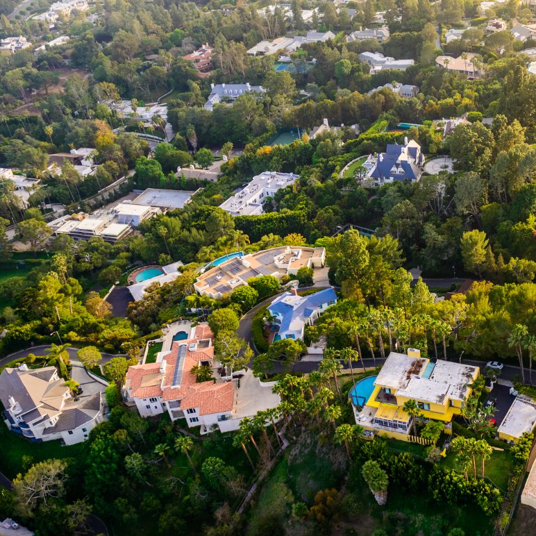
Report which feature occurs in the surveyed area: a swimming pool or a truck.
swimming pool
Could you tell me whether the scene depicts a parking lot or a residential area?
residential area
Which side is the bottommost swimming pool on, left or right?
right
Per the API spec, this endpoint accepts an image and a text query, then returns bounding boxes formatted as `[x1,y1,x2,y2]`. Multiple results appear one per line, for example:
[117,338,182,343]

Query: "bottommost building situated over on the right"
[497,398,536,453]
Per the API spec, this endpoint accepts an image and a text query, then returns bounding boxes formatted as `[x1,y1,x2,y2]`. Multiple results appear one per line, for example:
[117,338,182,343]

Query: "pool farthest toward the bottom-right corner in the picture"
[349,374,378,406]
